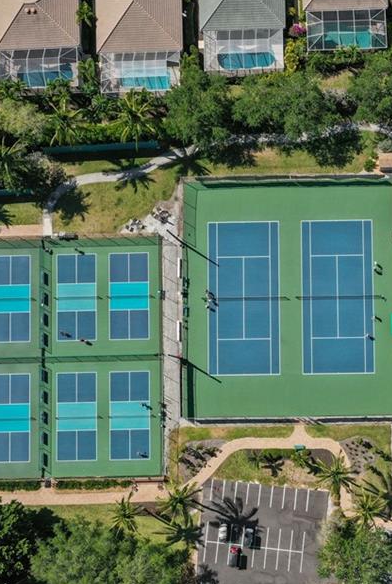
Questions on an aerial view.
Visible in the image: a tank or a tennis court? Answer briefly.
tennis court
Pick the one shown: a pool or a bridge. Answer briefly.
pool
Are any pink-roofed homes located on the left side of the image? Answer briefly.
No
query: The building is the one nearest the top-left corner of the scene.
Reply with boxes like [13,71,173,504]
[0,0,80,55]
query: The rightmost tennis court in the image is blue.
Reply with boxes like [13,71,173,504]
[296,220,380,374]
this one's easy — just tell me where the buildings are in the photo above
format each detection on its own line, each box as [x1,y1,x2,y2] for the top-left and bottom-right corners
[305,0,387,17]
[379,151,392,171]
[202,0,285,36]
[0,0,80,55]
[97,0,182,57]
